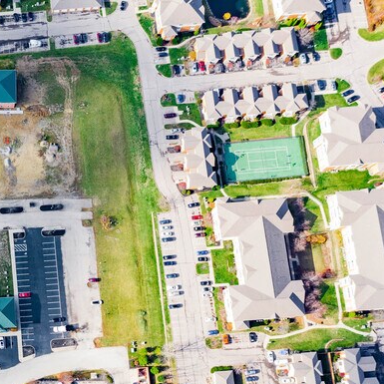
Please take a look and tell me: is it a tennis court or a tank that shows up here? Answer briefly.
tennis court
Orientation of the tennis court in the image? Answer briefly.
from left to right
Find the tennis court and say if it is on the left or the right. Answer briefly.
right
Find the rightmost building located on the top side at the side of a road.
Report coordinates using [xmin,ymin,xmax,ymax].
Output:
[315,108,384,179]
